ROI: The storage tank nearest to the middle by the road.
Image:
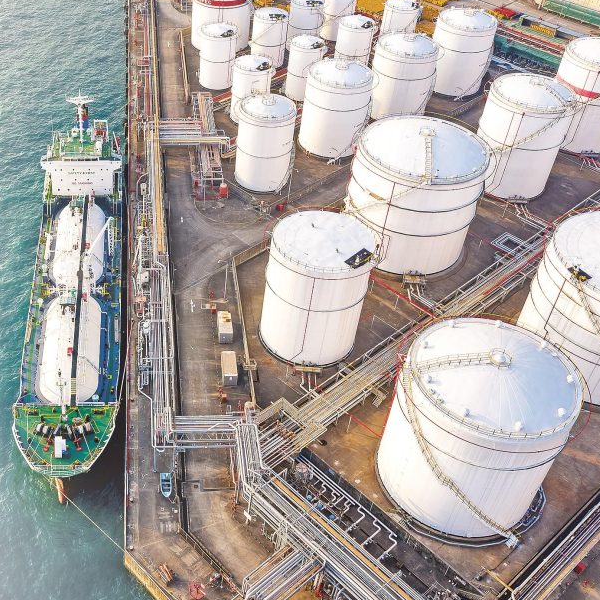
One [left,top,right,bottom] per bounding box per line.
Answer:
[257,204,379,375]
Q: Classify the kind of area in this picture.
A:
industrial area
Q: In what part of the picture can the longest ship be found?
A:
left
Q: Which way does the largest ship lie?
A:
vertically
